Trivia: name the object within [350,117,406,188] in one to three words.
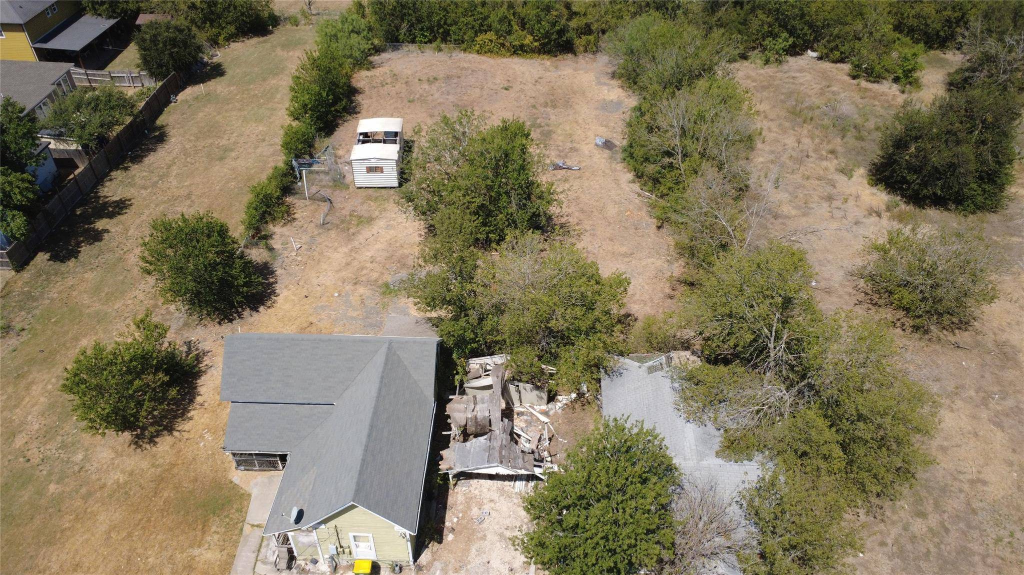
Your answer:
shed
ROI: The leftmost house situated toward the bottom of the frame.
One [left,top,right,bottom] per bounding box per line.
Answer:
[218,337,447,568]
